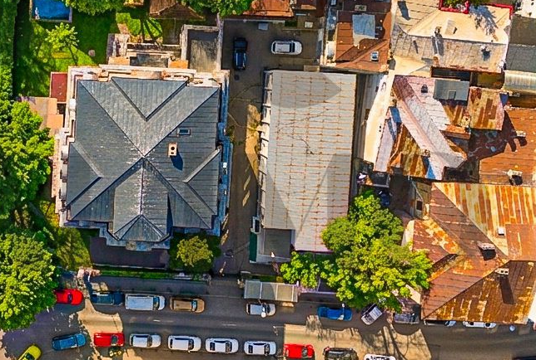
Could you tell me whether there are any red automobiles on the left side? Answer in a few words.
Yes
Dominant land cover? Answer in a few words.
buildings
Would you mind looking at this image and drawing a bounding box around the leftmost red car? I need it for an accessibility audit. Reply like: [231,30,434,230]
[49,289,84,306]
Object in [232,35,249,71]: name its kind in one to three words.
car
